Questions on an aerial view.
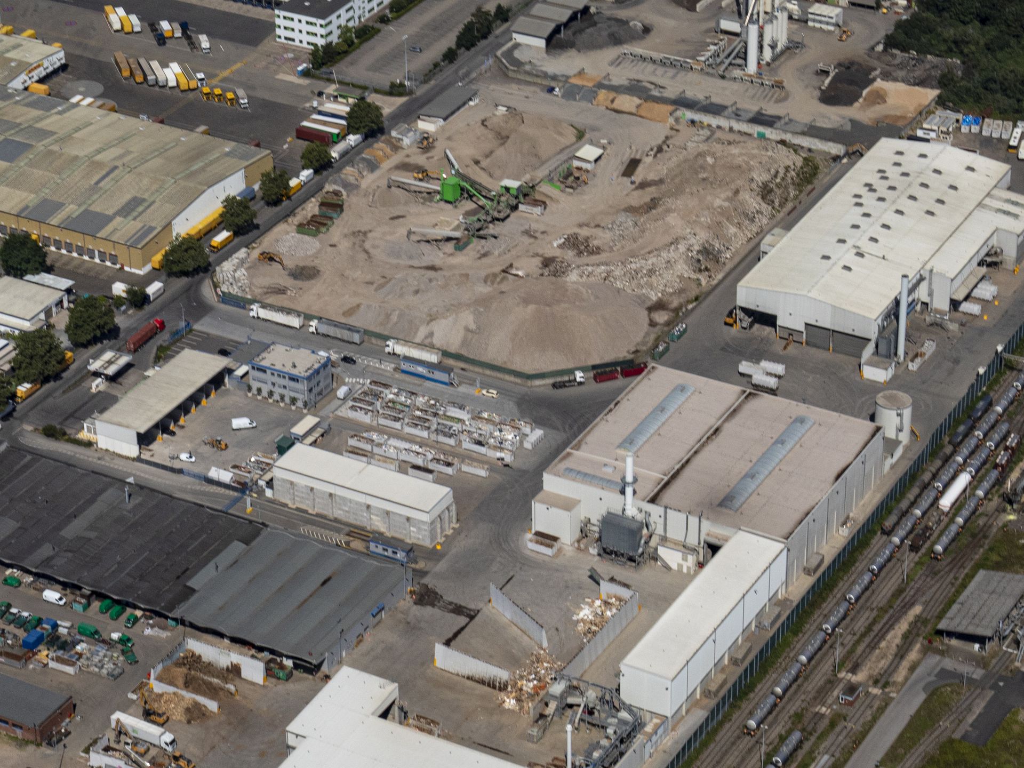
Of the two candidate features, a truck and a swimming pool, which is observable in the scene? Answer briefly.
truck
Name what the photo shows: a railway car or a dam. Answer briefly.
railway car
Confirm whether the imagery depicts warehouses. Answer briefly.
Yes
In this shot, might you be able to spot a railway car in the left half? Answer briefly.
No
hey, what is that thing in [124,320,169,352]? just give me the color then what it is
red truck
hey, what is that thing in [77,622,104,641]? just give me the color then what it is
green vehicle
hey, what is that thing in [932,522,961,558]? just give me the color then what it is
gray rail car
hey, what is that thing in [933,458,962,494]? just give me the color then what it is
gray rail car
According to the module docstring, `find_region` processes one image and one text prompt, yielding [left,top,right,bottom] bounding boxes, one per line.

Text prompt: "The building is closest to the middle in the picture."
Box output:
[401,354,459,383]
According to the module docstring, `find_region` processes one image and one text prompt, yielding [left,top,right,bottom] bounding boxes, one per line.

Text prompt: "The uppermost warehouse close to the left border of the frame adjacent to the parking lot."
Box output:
[0,87,270,274]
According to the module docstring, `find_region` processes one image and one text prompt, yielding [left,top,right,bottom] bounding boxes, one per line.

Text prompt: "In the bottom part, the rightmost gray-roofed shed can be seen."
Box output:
[937,568,1020,656]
